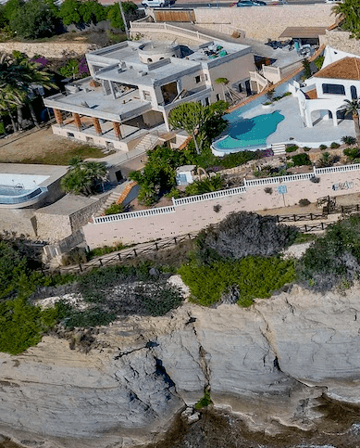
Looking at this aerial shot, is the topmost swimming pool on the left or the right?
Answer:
right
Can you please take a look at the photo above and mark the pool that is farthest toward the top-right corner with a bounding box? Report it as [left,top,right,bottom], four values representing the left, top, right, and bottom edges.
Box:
[216,107,288,153]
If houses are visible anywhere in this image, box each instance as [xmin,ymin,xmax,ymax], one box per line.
[31,35,267,163]
[297,38,360,130]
